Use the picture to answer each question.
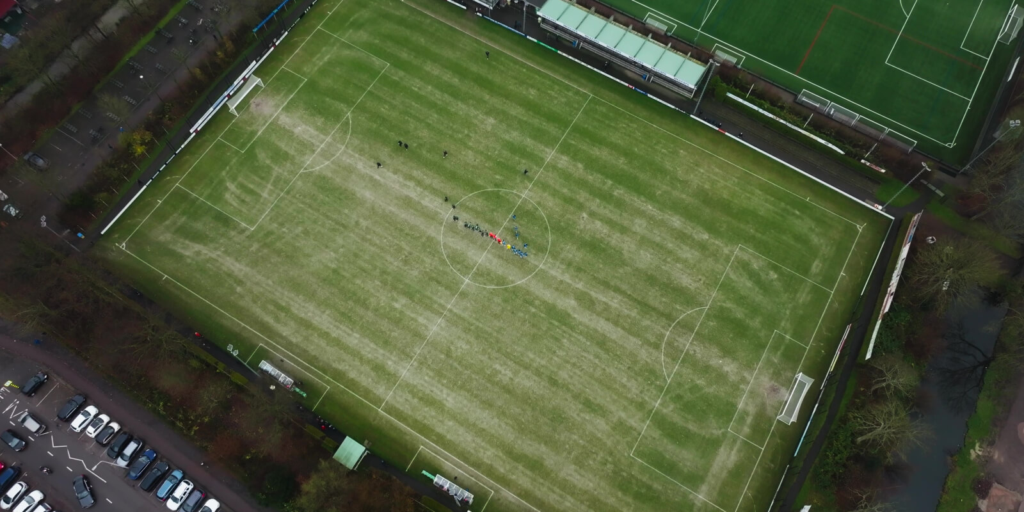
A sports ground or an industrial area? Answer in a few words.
sports ground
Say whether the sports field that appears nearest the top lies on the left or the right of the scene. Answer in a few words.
right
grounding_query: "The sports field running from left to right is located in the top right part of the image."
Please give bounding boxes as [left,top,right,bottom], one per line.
[593,0,1024,173]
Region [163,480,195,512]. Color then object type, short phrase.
white car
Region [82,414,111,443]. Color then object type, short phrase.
white car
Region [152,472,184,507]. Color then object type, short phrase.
blue car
